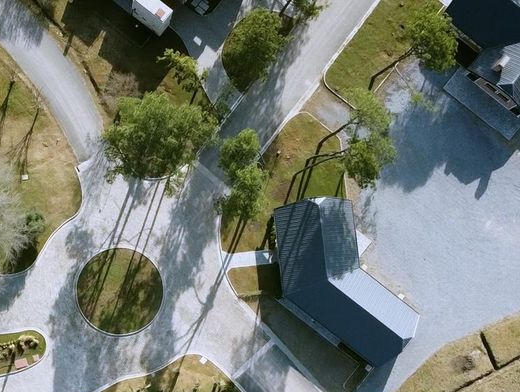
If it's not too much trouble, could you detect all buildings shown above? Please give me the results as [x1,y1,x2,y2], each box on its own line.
[434,0,520,141]
[269,194,423,371]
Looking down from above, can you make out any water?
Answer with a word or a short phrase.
No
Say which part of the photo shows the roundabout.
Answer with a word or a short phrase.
bottom left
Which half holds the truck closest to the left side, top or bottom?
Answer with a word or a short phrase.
top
